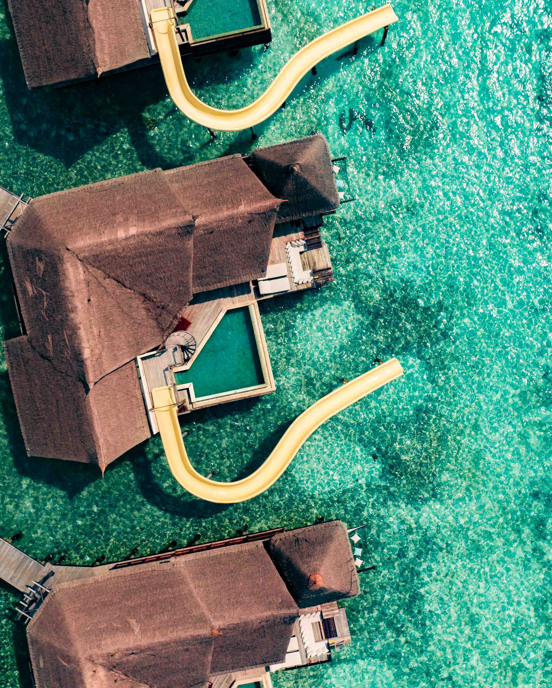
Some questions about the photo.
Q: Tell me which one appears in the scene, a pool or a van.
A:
pool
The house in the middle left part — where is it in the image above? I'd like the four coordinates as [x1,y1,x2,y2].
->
[1,153,287,475]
